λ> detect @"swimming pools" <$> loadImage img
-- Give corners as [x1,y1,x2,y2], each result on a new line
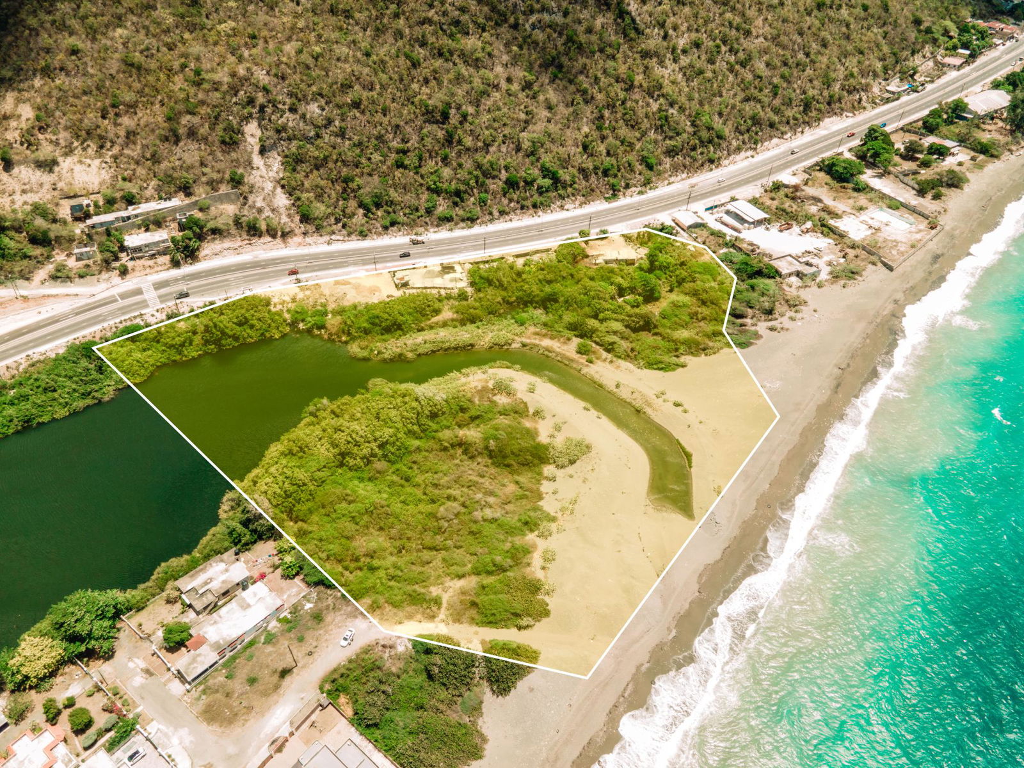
[865,207,918,231]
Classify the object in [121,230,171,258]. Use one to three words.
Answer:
house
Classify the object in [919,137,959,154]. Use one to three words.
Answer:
house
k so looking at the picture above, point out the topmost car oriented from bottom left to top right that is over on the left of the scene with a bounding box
[336,622,359,649]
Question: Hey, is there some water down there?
Yes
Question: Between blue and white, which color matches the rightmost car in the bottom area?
white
